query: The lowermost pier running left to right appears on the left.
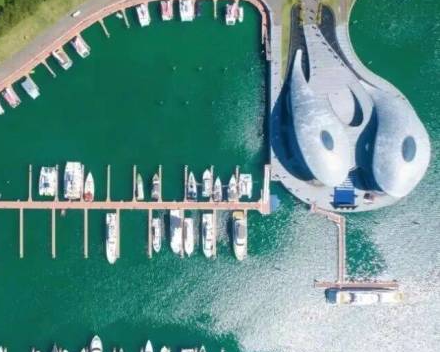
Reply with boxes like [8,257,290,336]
[0,163,270,259]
